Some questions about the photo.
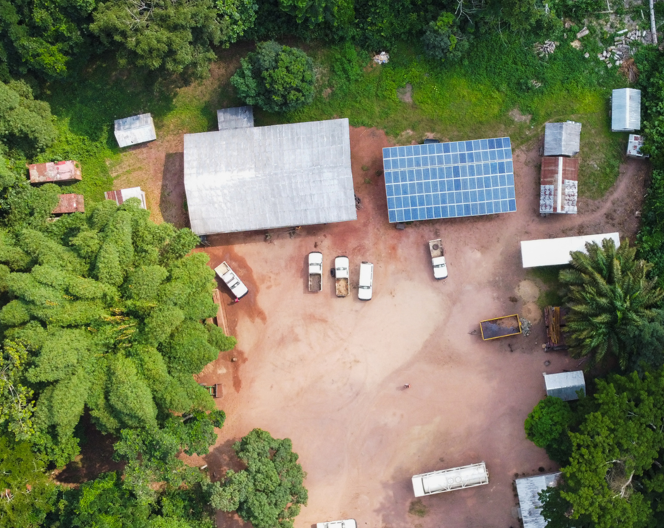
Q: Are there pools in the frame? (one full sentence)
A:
No, I can't see a single pool in this photo.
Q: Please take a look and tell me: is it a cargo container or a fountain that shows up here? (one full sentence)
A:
Of the two, only a cargo container appears.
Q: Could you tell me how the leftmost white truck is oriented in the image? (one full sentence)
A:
What the image shows is the leftmost white truck lying on a diagonal.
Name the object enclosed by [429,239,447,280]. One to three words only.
vehicle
